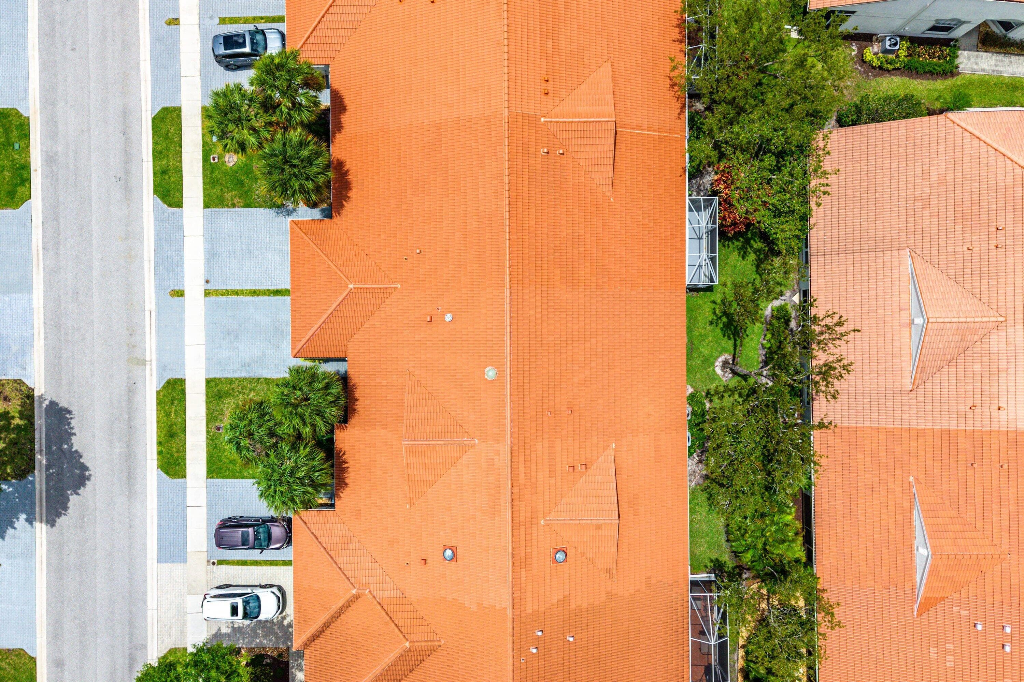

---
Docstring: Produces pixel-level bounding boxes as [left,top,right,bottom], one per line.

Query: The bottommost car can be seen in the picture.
[200,586,284,630]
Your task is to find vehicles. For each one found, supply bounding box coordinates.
[213,518,294,560]
[200,586,284,630]
[206,22,281,70]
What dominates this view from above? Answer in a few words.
buildings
